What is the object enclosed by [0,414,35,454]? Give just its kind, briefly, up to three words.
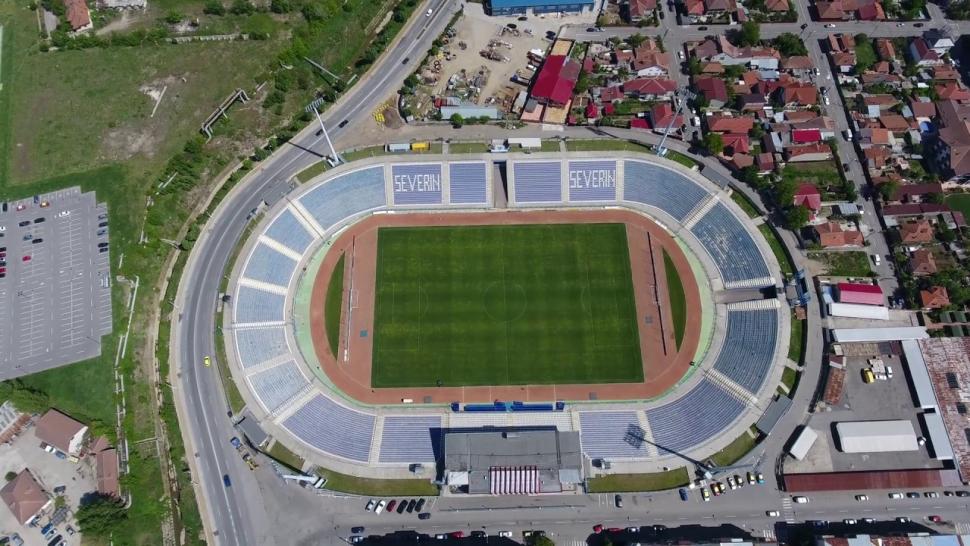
shed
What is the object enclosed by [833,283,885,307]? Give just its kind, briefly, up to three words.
building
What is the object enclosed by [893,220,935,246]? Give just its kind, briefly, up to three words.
house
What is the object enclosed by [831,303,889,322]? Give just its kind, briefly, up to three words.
building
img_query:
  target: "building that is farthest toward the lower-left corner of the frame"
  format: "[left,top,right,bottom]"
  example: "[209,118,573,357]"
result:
[0,467,57,525]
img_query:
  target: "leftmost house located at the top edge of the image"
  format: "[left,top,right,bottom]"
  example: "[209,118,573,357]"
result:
[66,0,97,38]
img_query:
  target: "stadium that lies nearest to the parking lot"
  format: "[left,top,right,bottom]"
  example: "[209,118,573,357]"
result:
[224,150,791,492]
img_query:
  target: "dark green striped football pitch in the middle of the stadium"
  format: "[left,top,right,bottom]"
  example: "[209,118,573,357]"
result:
[371,223,643,388]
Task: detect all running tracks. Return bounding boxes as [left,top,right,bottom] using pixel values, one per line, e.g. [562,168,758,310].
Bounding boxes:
[311,207,702,406]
